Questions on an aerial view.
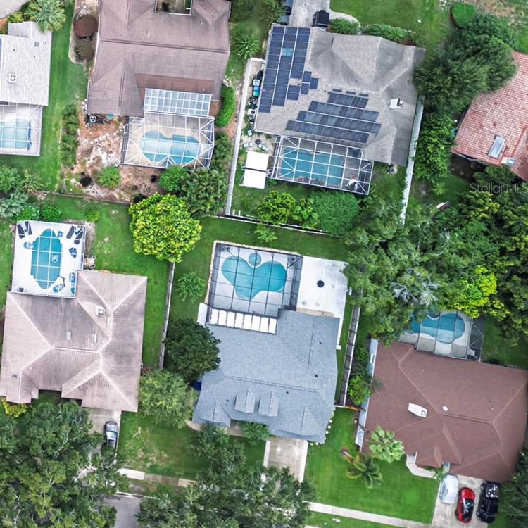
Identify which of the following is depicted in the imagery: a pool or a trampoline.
pool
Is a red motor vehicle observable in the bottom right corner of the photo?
Yes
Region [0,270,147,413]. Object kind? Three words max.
house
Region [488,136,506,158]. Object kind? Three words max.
solar panel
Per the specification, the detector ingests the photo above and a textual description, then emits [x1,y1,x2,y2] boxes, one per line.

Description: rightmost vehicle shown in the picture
[477,481,503,524]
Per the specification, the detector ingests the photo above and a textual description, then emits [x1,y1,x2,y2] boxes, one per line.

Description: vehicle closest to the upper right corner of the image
[311,3,331,31]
